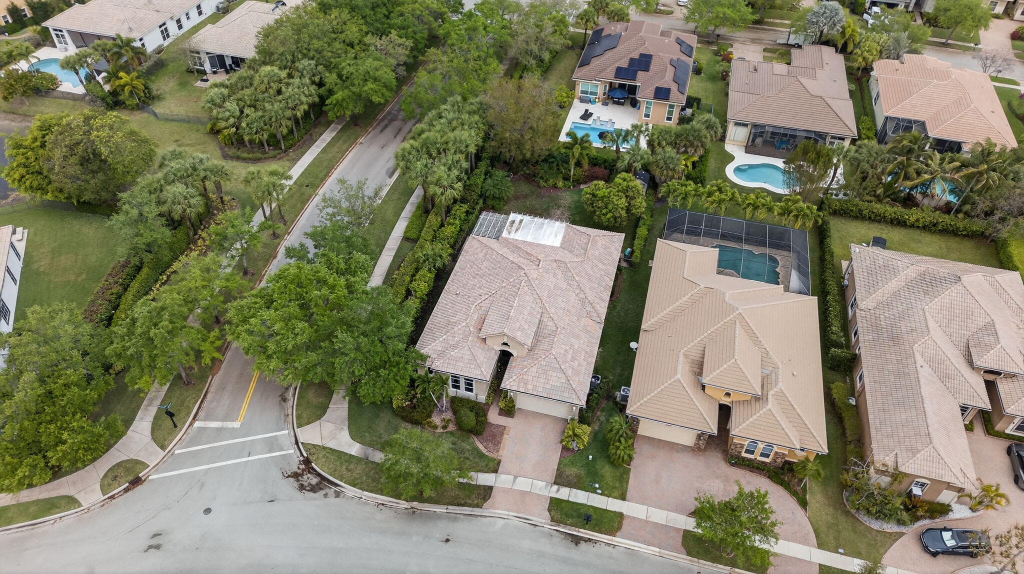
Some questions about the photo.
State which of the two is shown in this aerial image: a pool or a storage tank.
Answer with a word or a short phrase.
pool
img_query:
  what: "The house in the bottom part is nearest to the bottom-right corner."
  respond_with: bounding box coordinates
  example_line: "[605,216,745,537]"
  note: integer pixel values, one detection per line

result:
[845,242,1024,507]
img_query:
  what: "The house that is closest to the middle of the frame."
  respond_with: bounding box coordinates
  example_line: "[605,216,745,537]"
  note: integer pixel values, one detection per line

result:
[417,222,626,421]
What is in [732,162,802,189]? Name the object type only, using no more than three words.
swimming pool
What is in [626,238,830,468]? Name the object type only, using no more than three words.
house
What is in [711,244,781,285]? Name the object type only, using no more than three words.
swimming pool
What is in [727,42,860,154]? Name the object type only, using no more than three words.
house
